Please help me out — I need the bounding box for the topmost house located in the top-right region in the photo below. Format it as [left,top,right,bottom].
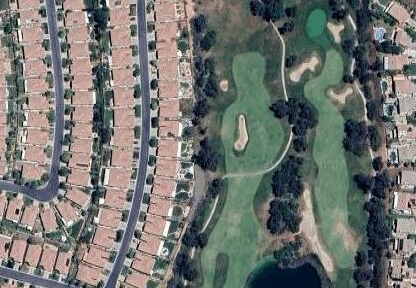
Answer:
[382,0,416,21]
